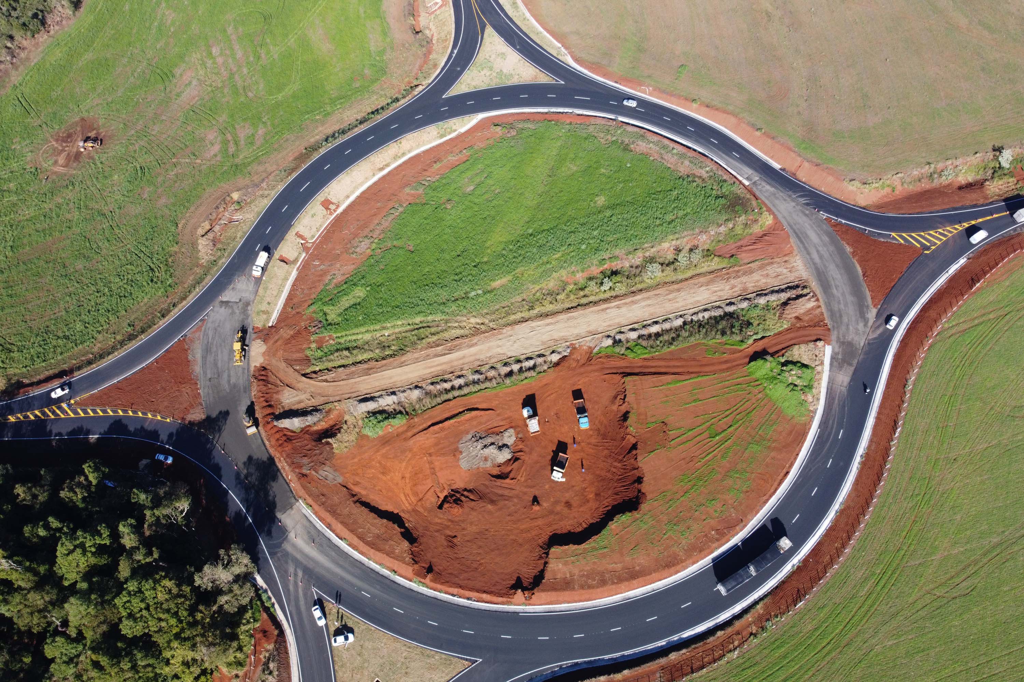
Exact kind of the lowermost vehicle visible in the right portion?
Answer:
truck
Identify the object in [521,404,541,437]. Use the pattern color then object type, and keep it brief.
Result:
white vehicle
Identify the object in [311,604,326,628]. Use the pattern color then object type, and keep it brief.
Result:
white car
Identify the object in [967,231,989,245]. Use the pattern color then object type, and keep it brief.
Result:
white vehicle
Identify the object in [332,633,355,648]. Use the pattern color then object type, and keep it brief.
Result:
white car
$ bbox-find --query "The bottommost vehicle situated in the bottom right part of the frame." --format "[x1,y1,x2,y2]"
[715,534,794,597]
